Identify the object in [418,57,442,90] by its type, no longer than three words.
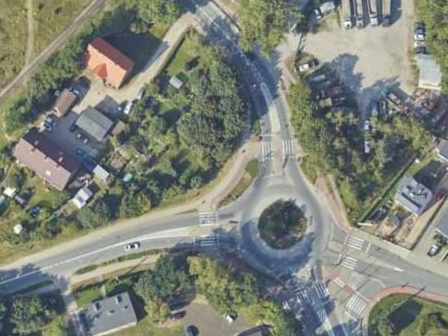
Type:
building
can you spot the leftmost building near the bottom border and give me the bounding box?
[82,293,138,336]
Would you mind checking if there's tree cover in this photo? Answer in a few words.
Yes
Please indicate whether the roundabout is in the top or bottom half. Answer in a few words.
bottom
